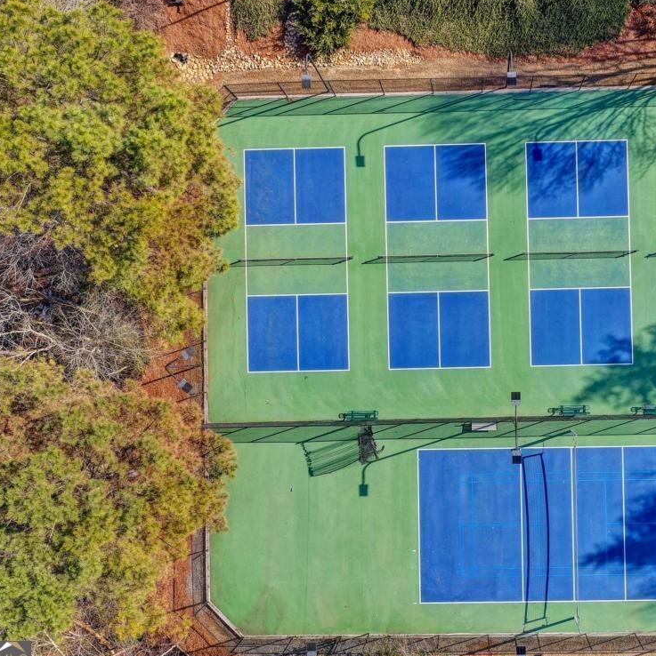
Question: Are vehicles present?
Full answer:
No, there isn't any vehicle down there.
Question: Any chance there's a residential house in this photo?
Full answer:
No, there is no residential house in the image.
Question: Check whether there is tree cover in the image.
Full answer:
Yes, there is tree cover in the image.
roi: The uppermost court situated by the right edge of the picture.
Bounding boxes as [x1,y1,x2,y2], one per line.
[526,140,634,367]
